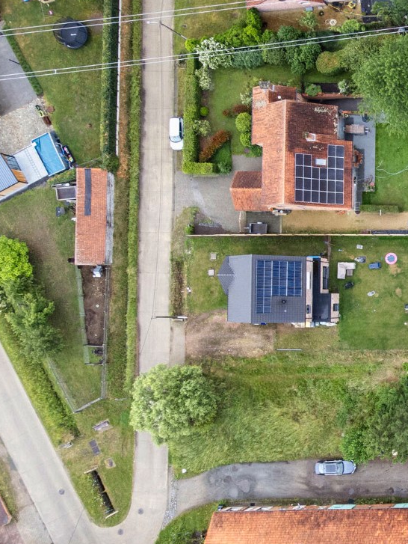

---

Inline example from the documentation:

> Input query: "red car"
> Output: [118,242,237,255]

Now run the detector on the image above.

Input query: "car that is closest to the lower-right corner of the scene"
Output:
[317,459,355,476]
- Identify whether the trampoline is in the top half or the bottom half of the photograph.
top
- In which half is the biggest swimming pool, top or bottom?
top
